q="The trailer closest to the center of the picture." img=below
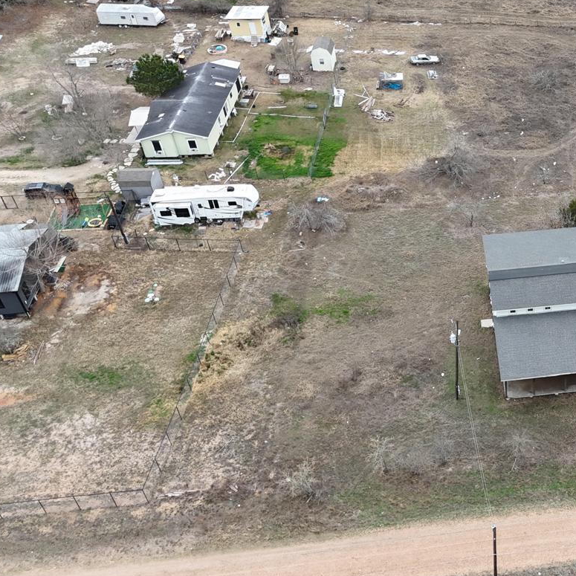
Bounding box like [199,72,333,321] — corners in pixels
[150,183,265,230]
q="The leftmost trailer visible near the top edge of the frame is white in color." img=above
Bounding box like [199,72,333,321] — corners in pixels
[98,5,174,30]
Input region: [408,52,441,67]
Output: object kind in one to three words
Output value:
car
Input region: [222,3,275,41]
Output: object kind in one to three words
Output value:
shed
